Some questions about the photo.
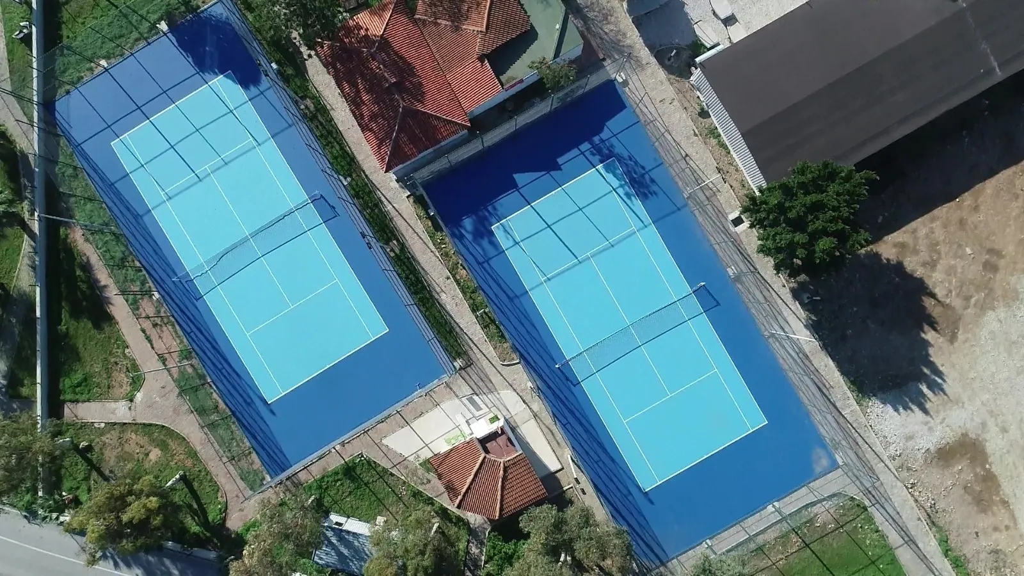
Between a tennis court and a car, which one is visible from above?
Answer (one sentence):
The image shows a tennis court.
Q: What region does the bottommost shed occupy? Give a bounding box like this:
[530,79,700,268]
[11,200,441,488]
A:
[314,512,372,576]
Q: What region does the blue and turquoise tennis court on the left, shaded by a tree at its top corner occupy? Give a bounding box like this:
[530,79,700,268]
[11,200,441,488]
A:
[54,0,454,478]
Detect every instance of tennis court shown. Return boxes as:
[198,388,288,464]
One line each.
[54,0,454,478]
[420,82,840,569]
